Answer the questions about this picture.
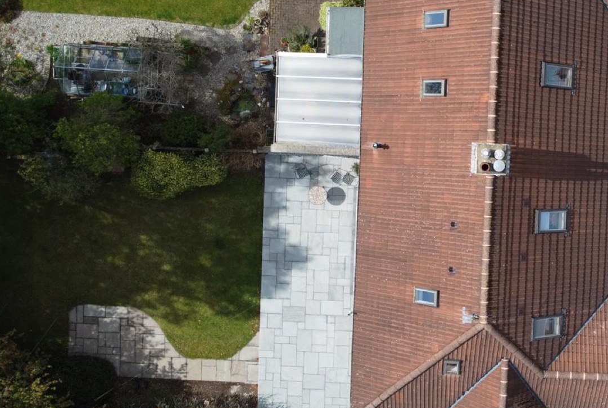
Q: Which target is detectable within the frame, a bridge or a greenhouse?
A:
greenhouse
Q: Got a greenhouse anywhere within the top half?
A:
Yes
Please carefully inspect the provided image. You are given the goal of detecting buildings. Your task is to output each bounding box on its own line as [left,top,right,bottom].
[53,43,159,98]
[346,0,608,408]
